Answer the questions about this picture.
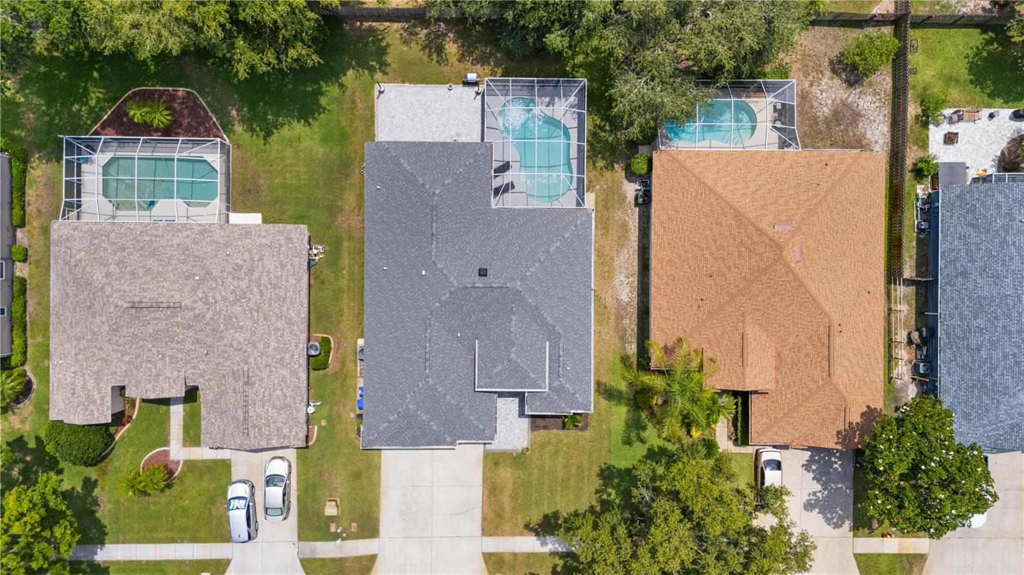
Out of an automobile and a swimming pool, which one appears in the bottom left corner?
automobile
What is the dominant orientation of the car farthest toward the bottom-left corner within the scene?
vertically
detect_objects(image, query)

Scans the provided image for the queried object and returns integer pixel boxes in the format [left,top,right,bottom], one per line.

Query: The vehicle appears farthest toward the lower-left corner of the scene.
[226,479,260,543]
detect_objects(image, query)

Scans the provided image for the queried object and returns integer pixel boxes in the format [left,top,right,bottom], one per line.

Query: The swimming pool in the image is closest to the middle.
[494,93,576,205]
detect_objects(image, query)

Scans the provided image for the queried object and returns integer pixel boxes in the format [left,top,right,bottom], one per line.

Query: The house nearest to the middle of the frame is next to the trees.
[360,140,594,449]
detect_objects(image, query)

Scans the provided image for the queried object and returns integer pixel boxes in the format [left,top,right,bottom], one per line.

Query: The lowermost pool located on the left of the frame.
[99,154,218,214]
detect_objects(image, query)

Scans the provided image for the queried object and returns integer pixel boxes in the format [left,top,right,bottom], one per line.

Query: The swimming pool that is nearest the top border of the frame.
[660,93,761,148]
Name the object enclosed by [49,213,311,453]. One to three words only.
house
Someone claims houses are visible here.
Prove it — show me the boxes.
[49,213,311,453]
[915,183,1024,450]
[360,140,594,449]
[649,149,887,451]
[0,149,12,357]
